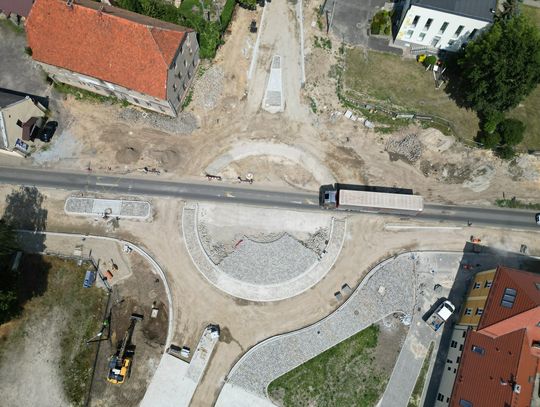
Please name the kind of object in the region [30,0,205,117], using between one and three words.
house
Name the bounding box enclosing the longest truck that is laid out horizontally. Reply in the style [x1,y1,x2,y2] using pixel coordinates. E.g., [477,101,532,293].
[321,190,424,215]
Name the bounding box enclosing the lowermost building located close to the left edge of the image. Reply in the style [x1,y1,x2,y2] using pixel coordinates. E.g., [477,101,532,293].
[0,92,46,157]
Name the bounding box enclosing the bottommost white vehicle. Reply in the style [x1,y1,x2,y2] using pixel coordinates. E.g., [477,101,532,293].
[426,299,458,332]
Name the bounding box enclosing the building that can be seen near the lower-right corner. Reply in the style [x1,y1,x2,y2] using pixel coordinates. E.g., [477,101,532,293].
[431,265,540,407]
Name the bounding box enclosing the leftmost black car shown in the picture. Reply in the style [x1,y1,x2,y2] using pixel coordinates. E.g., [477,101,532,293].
[40,120,61,142]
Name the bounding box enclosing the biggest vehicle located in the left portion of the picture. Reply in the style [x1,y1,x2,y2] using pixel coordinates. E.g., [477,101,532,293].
[104,316,140,388]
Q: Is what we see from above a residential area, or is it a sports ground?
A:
residential area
